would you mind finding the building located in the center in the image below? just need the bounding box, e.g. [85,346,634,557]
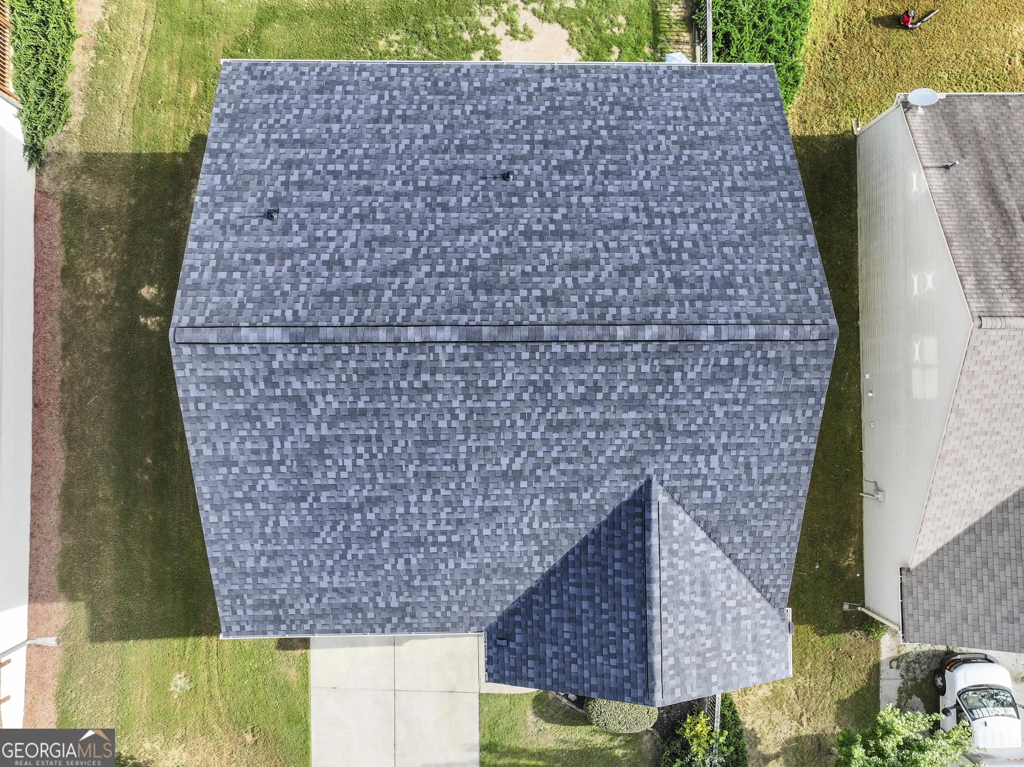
[169,56,838,709]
